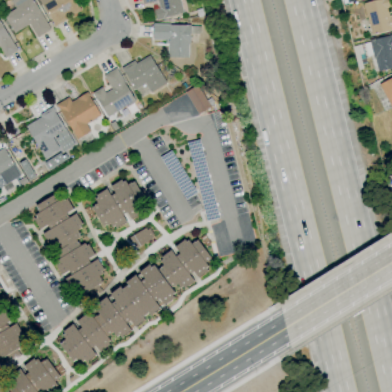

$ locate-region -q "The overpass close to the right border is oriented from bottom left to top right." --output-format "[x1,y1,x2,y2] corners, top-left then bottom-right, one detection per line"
[277,234,392,356]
